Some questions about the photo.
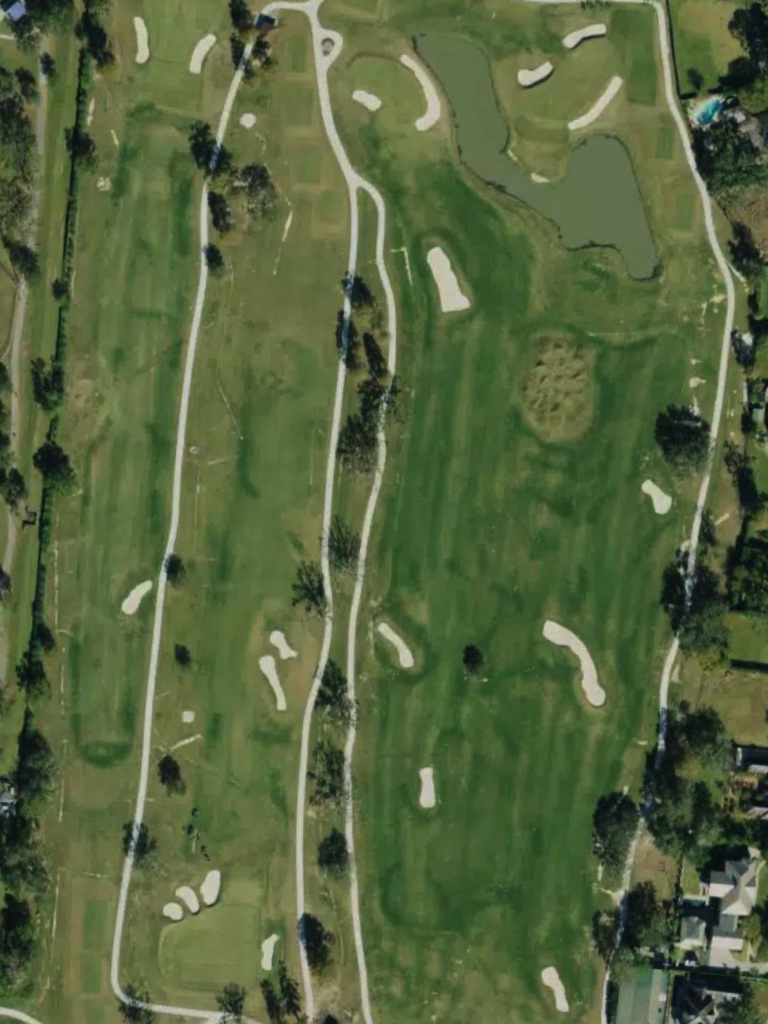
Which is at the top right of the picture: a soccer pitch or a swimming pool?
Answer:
swimming pool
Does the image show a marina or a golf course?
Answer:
golf course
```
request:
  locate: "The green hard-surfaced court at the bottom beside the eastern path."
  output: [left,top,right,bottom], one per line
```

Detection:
[616,969,667,1024]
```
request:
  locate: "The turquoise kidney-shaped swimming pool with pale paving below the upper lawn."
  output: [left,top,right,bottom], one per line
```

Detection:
[687,93,726,127]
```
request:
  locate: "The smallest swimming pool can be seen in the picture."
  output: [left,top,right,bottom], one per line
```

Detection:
[682,895,708,910]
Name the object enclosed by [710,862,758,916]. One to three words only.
house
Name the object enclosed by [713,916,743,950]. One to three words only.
building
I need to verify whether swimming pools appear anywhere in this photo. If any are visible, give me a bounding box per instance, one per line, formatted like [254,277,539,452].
[682,895,708,910]
[687,93,726,127]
